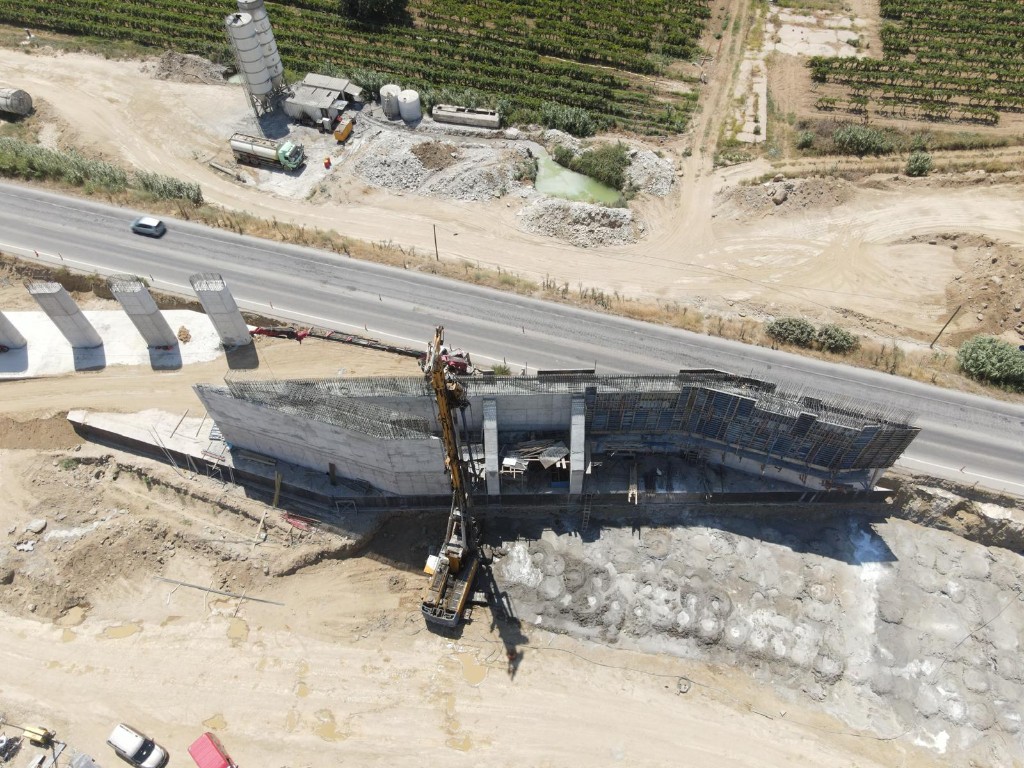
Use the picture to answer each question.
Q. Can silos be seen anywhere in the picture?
Yes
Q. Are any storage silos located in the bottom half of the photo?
No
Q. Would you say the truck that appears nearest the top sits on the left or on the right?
left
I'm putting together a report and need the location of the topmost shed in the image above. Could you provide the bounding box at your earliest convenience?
[276,68,365,128]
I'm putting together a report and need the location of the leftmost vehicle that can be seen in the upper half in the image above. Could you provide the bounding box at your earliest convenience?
[129,220,166,240]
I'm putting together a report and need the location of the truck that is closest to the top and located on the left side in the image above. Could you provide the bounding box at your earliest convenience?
[228,131,301,168]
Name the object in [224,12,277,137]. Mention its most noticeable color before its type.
gray silo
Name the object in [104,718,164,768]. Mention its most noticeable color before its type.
white car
